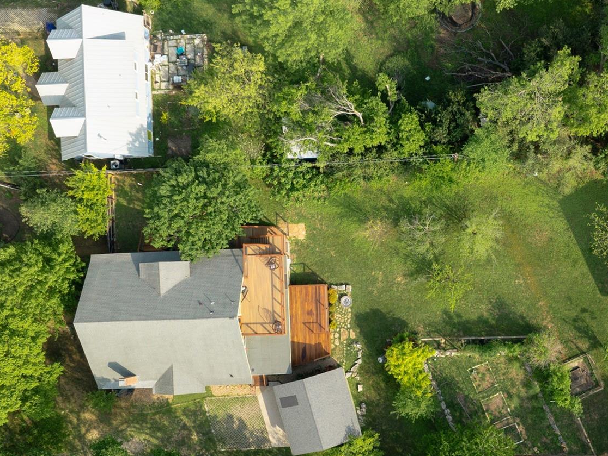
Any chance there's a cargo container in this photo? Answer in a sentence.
No, the picture doesn't show any cargo container.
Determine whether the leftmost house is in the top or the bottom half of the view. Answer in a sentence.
The leftmost house is in the top half of the image.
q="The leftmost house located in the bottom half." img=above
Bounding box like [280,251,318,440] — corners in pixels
[74,225,296,395]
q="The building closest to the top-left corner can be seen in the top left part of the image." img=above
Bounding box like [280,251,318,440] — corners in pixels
[36,0,161,163]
